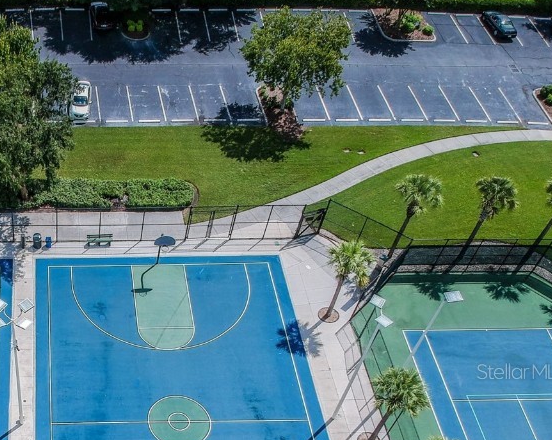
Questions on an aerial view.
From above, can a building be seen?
No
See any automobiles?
Yes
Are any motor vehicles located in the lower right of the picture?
No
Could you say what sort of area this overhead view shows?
sports ground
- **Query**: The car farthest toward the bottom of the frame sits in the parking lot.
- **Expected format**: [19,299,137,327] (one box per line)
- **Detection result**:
[68,80,94,118]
